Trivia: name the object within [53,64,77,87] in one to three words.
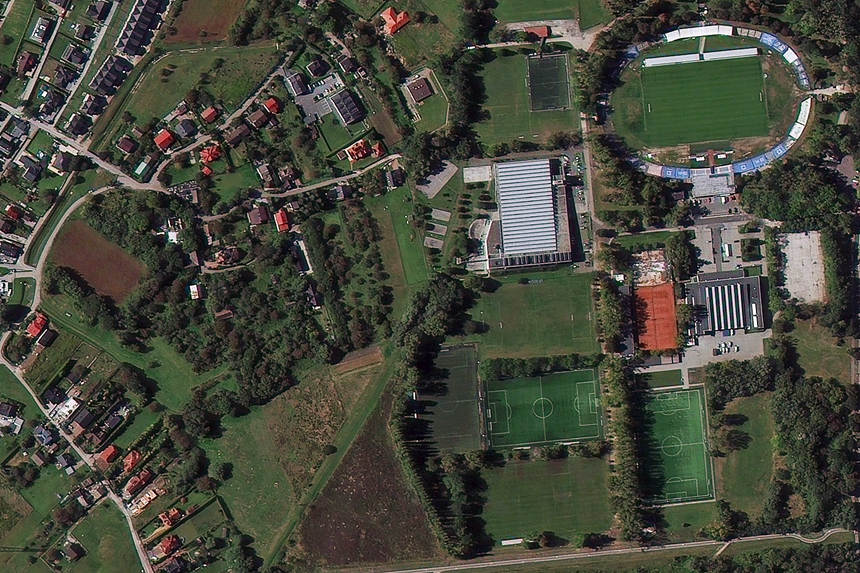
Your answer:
house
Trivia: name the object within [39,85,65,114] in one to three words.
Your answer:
house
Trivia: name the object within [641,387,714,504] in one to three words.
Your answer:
soccer field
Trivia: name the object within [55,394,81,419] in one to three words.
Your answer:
building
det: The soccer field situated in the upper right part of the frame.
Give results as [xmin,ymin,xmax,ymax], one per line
[641,55,771,149]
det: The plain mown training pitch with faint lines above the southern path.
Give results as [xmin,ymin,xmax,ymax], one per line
[482,458,613,539]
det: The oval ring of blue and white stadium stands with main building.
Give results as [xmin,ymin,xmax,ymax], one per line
[604,24,816,198]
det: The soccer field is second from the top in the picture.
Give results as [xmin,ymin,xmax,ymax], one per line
[478,274,597,360]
